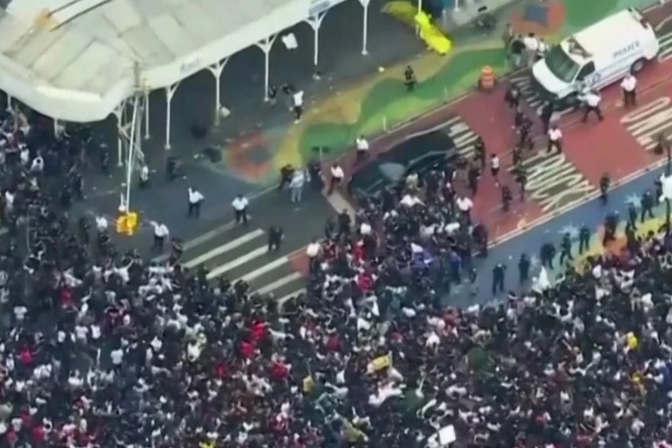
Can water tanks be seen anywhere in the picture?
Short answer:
No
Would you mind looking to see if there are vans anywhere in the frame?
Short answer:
Yes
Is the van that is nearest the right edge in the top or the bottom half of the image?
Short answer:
top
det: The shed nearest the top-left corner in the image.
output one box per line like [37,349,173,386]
[0,0,373,177]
